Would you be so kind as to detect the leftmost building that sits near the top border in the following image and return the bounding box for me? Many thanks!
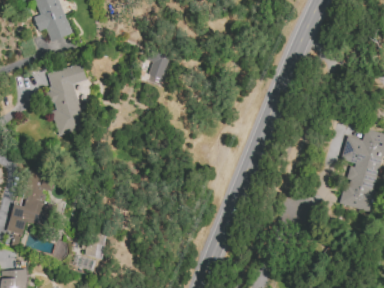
[34,0,73,44]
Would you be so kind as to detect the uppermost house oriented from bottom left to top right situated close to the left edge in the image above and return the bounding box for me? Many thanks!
[7,173,52,234]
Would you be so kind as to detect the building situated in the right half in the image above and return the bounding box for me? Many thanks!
[341,130,384,212]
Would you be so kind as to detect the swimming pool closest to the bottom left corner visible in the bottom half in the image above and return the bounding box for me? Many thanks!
[26,235,55,254]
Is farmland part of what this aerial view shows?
No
